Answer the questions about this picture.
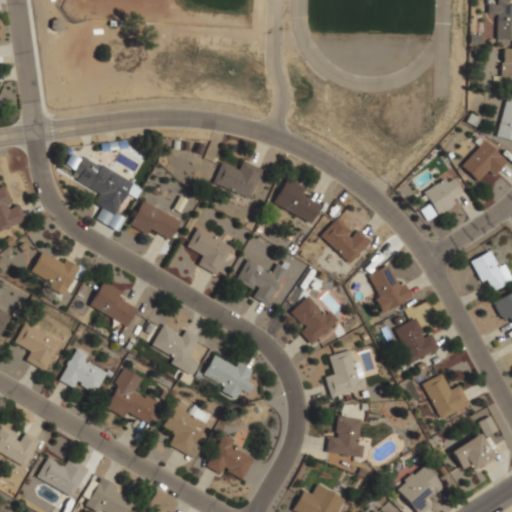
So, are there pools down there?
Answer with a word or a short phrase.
Yes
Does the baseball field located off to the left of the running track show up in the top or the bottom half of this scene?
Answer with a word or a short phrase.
top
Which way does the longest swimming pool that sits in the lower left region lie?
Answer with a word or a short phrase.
on a diagonal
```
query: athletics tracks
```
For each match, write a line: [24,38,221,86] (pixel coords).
[292,0,450,98]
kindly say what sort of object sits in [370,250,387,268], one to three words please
camper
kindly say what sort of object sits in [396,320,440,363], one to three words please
house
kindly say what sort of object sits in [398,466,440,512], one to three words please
house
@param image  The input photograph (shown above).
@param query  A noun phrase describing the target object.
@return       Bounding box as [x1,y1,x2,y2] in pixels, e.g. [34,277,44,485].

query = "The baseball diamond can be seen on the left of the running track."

[64,0,252,20]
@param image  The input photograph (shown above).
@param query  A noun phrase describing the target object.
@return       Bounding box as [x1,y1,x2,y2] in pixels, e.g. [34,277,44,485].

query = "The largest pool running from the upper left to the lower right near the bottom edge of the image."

[36,484,64,508]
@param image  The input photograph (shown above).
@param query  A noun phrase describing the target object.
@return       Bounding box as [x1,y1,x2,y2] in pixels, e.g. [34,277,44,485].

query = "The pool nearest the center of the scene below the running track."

[320,292,342,316]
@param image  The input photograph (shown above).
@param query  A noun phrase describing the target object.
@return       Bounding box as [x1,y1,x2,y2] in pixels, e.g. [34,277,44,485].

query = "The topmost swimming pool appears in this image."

[415,172,432,188]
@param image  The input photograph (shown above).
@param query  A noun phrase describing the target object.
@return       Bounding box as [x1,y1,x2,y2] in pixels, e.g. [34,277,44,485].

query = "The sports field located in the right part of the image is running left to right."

[308,0,434,38]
